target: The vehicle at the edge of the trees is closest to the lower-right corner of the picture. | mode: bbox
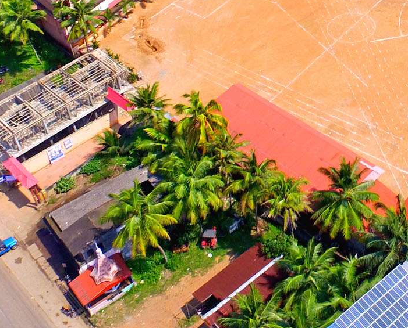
[199,228,217,253]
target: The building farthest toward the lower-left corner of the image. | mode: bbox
[73,245,135,315]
